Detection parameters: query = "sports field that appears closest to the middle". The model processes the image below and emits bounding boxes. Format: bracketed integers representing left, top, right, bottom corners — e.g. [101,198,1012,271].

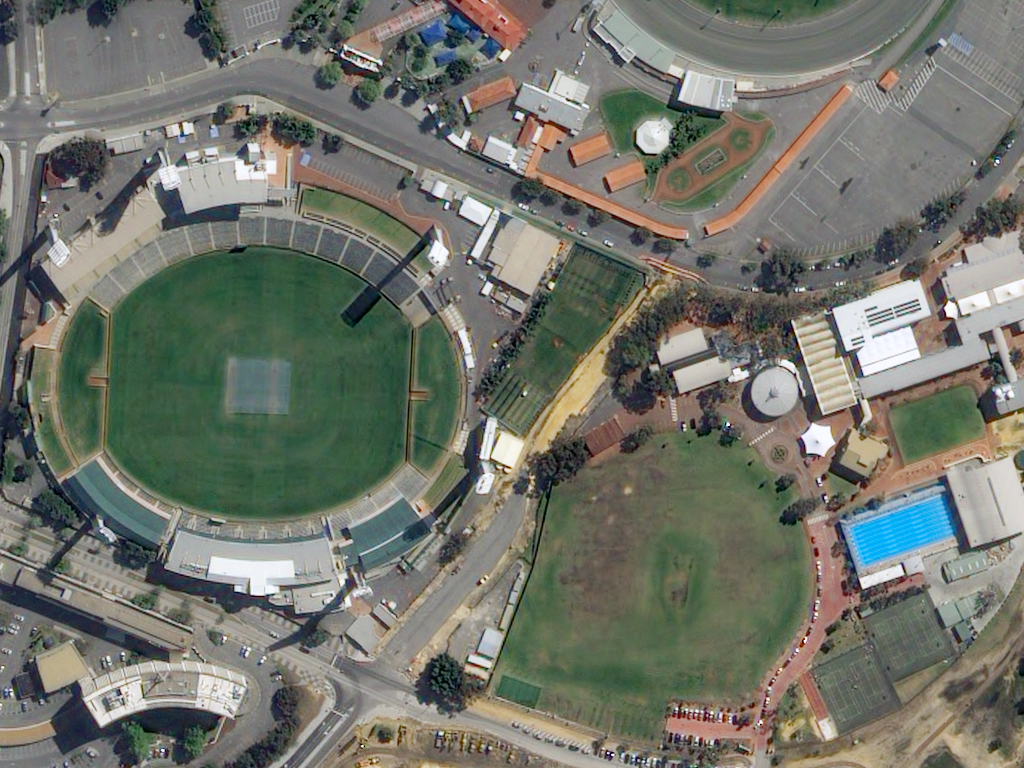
[481,243,645,436]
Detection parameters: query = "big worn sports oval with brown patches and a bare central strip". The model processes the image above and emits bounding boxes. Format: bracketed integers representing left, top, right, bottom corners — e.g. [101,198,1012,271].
[495,432,810,748]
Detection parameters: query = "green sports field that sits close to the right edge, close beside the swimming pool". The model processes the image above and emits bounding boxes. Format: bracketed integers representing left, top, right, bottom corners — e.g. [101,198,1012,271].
[886,385,990,478]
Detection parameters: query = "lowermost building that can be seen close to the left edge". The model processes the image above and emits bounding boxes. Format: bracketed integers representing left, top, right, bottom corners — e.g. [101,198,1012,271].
[0,718,56,746]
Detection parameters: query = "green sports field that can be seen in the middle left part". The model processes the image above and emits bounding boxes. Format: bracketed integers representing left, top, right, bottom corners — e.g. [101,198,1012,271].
[104,244,414,522]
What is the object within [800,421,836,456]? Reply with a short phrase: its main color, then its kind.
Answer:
white tent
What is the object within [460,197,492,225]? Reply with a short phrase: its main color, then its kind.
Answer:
white tent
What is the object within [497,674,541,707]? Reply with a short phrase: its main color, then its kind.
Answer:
green sports field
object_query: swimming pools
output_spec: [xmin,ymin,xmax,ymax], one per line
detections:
[838,484,966,576]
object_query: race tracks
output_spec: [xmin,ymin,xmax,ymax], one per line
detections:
[610,0,931,74]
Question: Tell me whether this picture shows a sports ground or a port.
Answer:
sports ground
